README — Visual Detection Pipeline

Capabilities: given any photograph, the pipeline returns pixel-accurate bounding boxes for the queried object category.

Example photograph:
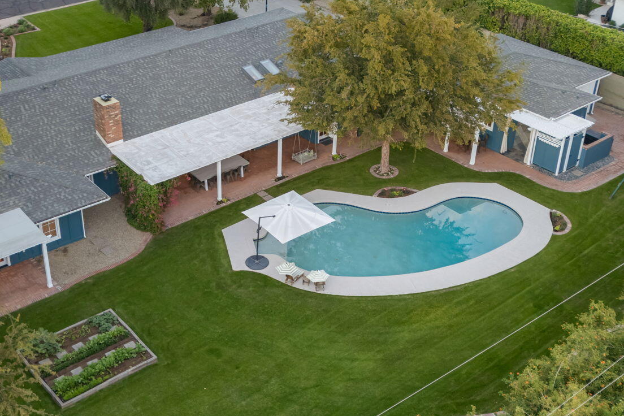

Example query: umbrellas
[272,254,302,278]
[240,185,339,267]
[304,266,332,280]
